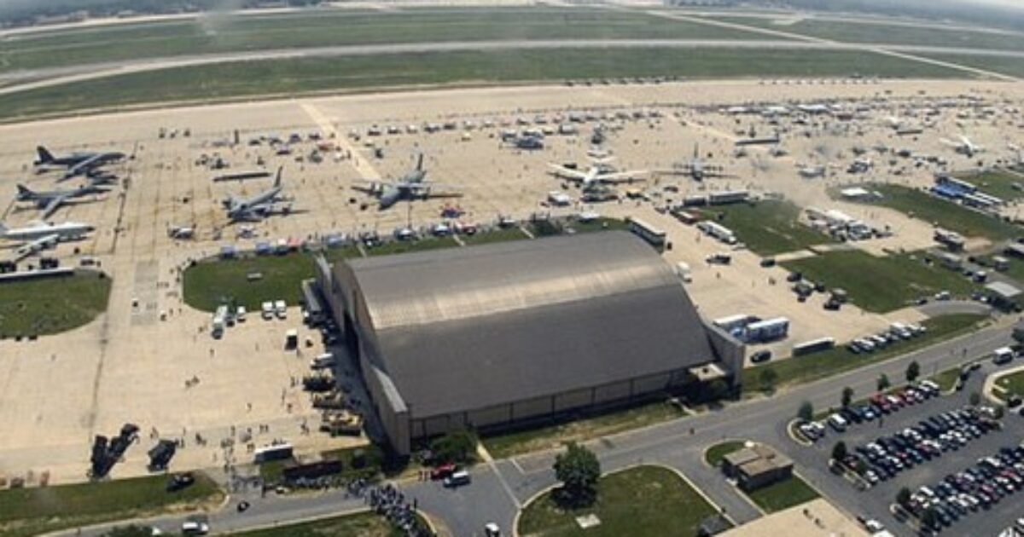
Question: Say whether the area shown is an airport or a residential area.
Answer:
airport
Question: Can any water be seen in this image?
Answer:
No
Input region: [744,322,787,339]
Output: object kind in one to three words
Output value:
vehicle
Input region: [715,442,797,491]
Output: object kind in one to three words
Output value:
building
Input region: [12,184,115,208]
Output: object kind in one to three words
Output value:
airplane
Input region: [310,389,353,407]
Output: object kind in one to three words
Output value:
work vehicle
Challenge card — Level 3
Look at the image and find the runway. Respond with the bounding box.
[0,39,1024,82]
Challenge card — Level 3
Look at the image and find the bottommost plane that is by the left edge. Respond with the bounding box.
[0,213,105,248]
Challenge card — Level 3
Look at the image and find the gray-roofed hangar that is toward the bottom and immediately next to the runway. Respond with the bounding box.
[313,231,748,457]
